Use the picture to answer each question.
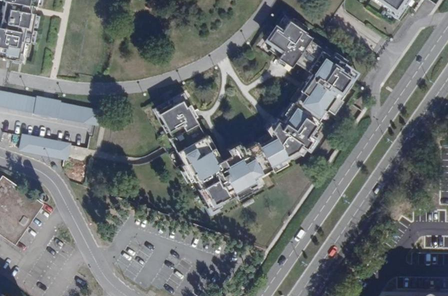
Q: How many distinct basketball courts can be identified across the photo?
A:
0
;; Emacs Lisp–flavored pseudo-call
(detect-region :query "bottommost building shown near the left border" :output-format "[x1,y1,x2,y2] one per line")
[0,176,43,244]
